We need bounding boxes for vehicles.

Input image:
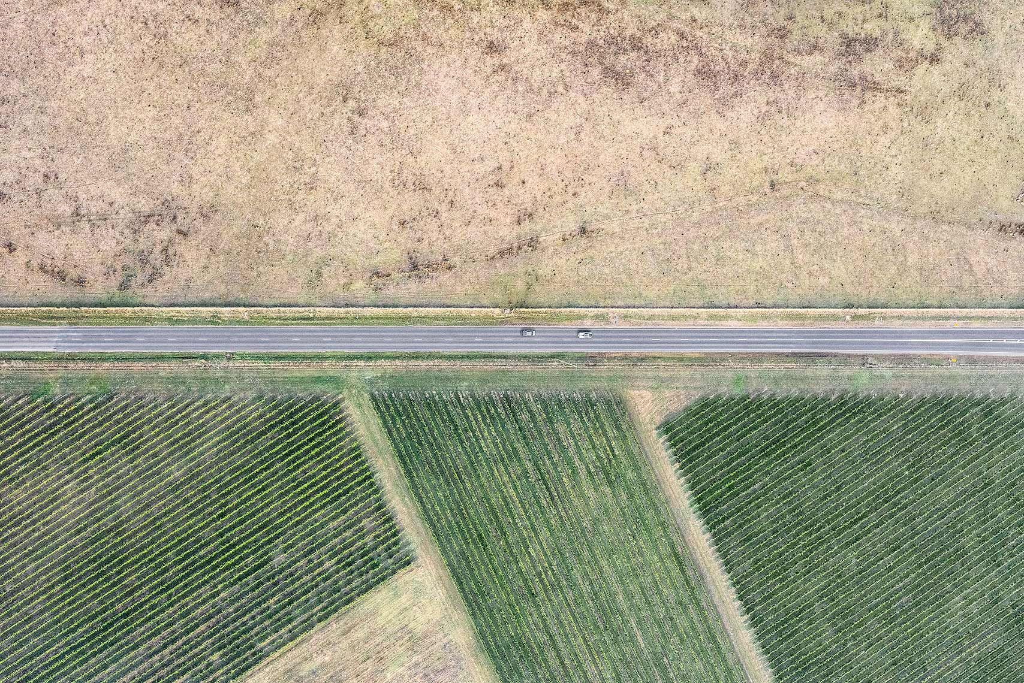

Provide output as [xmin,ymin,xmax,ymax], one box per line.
[521,330,536,336]
[578,332,592,338]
